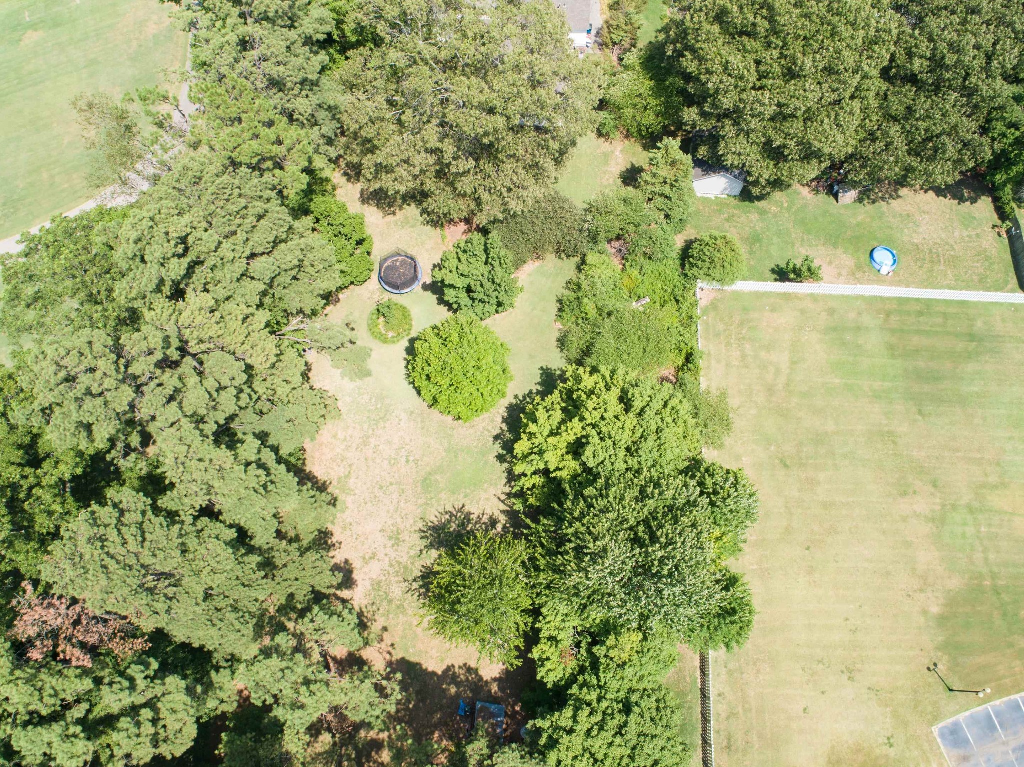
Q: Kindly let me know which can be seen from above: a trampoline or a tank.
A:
trampoline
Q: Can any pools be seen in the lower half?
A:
No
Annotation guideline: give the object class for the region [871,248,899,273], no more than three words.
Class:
swimming pool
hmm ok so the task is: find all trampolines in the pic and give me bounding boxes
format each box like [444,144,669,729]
[379,248,424,299]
